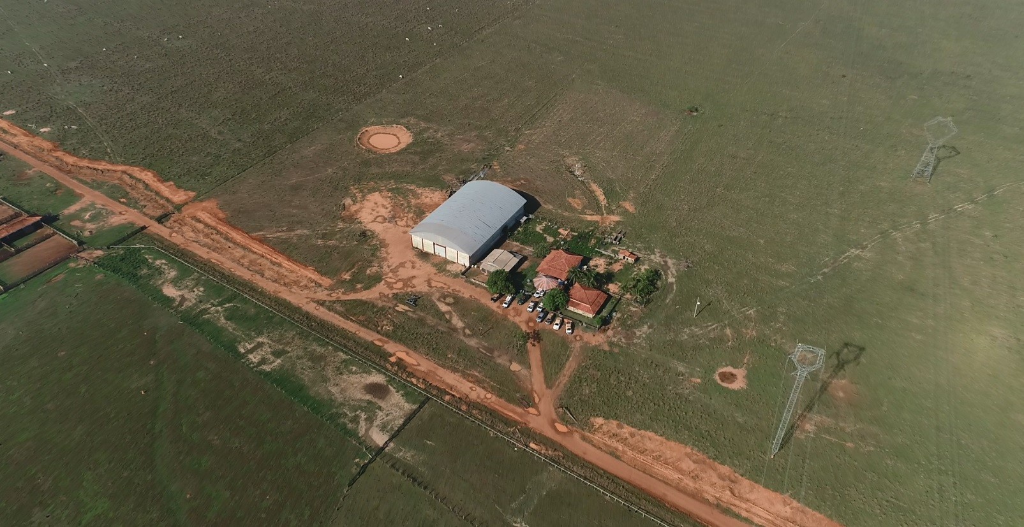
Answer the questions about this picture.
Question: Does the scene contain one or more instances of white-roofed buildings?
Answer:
Yes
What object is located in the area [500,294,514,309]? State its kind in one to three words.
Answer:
car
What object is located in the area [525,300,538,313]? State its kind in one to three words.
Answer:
vehicle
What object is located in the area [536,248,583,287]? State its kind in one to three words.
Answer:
house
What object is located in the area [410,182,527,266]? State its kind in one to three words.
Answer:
building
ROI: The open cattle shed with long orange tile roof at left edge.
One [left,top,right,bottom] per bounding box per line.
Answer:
[0,212,43,246]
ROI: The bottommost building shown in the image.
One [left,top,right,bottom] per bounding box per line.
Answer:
[563,283,608,321]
